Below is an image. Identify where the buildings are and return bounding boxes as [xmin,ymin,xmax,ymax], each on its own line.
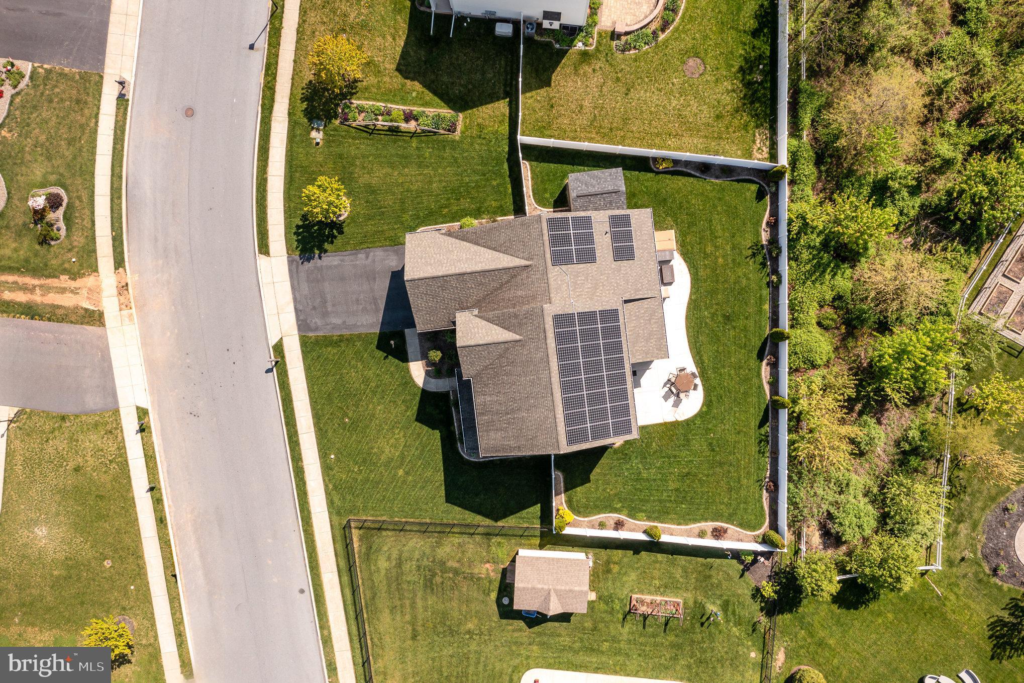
[404,208,669,457]
[430,0,594,38]
[513,549,589,618]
